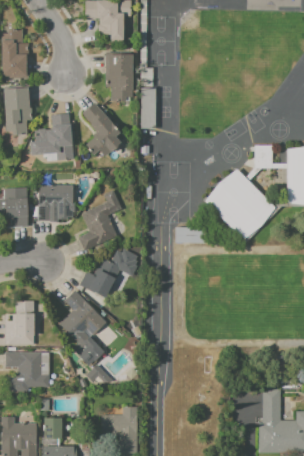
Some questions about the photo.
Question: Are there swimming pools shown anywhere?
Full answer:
Yes, a swimming pool appears in the view.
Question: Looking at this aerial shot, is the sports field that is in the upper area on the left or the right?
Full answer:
You can find the sports field that is in the upper area on the right side of the picture.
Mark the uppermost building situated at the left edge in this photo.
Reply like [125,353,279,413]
[2,30,28,79]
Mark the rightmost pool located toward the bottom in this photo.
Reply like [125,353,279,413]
[98,349,137,380]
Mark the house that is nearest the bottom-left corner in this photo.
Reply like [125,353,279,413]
[2,418,37,456]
